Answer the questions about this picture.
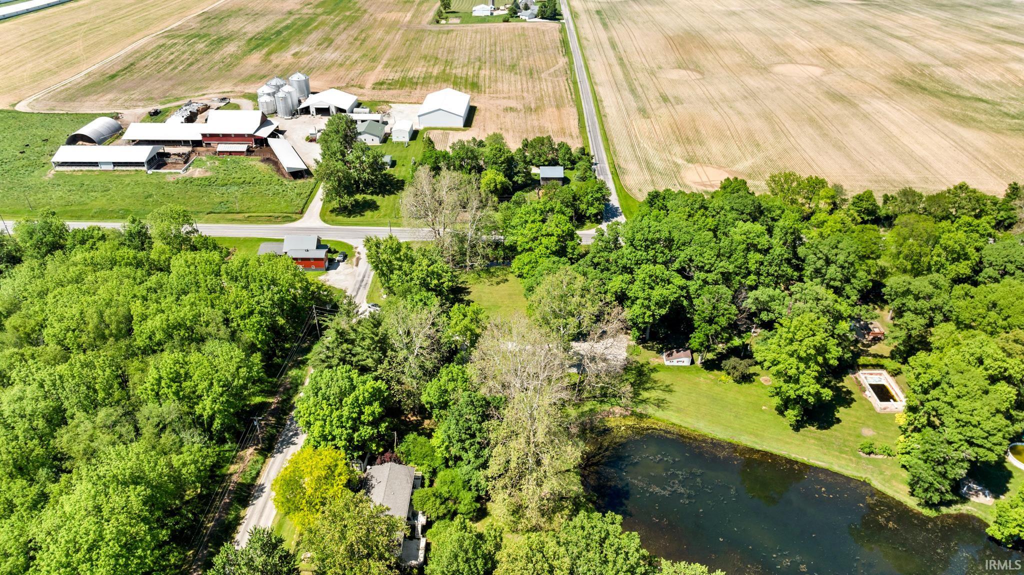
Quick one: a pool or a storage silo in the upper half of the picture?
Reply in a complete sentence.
It is a storage silo that can be seen in the upper half of the picture.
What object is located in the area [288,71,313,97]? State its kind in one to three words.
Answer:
silo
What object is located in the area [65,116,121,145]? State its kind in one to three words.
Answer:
barn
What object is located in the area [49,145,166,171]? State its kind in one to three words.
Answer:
shed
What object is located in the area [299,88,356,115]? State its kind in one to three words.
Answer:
barn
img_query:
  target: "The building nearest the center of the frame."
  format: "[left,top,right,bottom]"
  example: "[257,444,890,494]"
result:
[540,166,564,185]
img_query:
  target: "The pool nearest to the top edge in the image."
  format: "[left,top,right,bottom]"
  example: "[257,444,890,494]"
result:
[855,369,909,412]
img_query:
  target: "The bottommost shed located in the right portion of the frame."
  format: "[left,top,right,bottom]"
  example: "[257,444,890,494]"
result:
[663,347,693,365]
